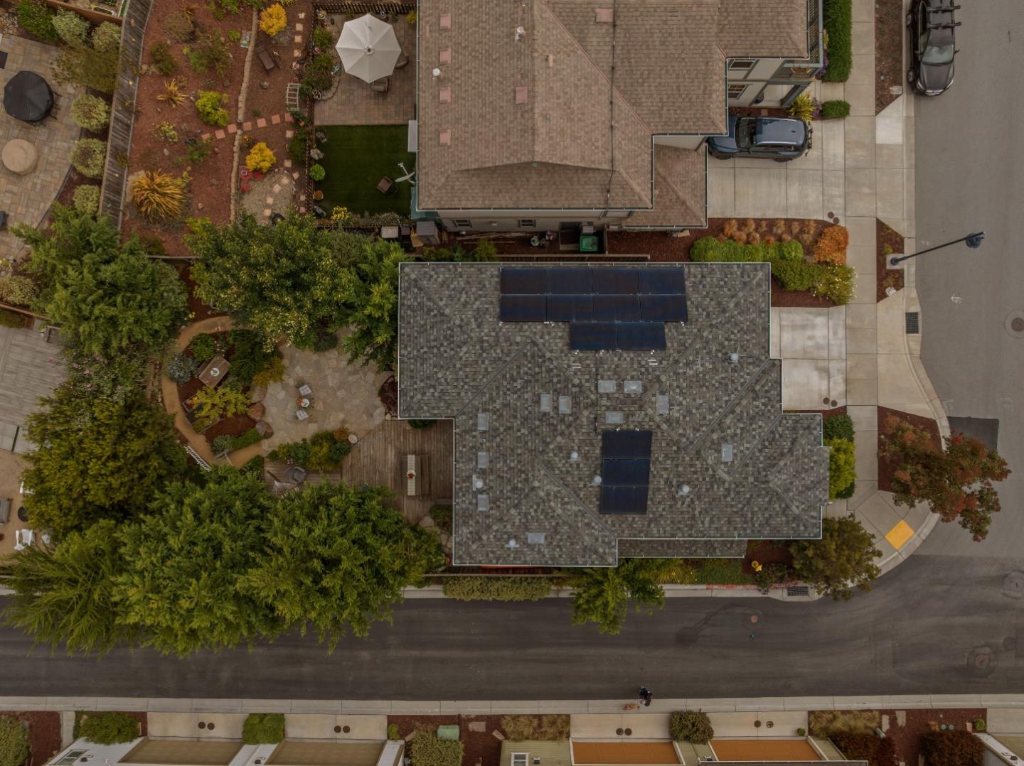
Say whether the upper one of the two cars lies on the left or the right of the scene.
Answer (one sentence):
You can find the upper one of the two cars on the right side of the picture.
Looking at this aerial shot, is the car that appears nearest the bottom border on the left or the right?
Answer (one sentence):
The car that appears nearest the bottom border appears in the right half of the scene.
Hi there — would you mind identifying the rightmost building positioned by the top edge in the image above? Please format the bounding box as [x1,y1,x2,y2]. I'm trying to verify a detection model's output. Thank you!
[416,0,825,231]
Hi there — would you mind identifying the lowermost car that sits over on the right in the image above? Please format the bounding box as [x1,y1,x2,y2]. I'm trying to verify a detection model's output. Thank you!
[708,107,825,160]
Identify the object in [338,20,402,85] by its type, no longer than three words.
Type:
umbrella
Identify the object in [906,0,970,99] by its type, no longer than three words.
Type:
car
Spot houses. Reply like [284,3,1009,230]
[399,262,830,568]
[975,734,1024,766]
[46,737,404,766]
[500,740,869,766]
[416,0,825,231]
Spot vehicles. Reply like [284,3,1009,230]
[708,107,825,160]
[906,0,970,99]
